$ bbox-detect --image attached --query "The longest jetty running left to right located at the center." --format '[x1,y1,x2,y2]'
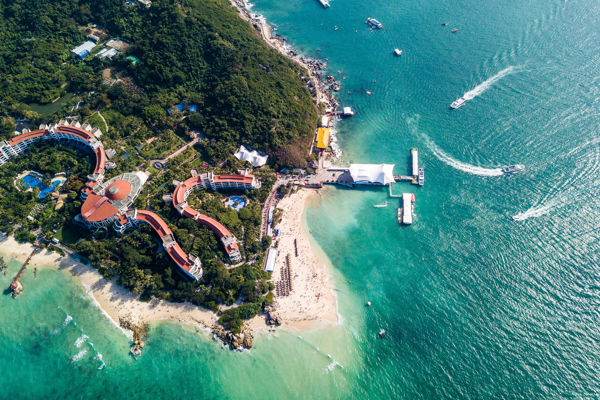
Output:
[322,163,394,189]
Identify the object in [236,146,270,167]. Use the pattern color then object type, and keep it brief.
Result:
white tent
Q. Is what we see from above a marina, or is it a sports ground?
marina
